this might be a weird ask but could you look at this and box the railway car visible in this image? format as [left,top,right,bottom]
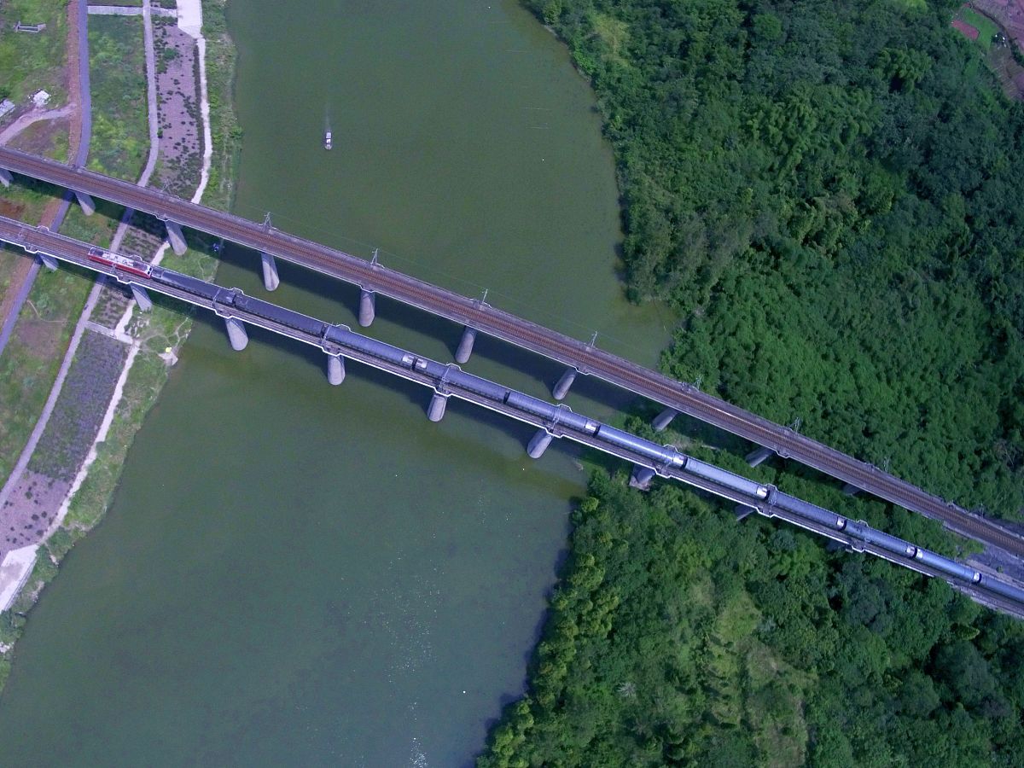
[89,245,156,278]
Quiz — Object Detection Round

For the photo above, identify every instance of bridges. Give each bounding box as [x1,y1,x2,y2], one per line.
[0,144,948,524]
